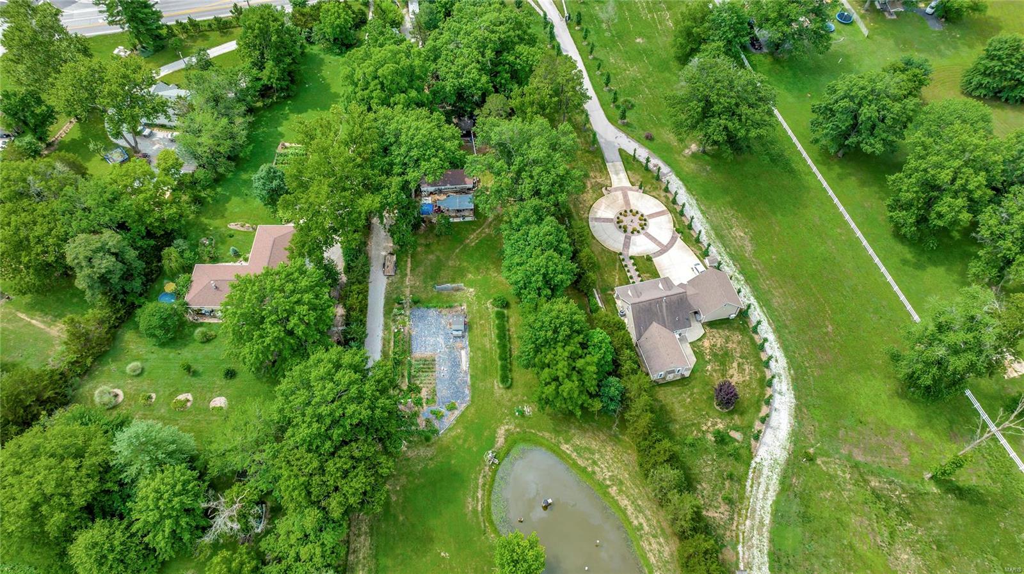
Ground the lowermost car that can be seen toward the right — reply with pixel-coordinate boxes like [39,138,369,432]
[687,259,703,277]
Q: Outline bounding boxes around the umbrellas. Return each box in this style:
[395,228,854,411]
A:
[162,282,177,294]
